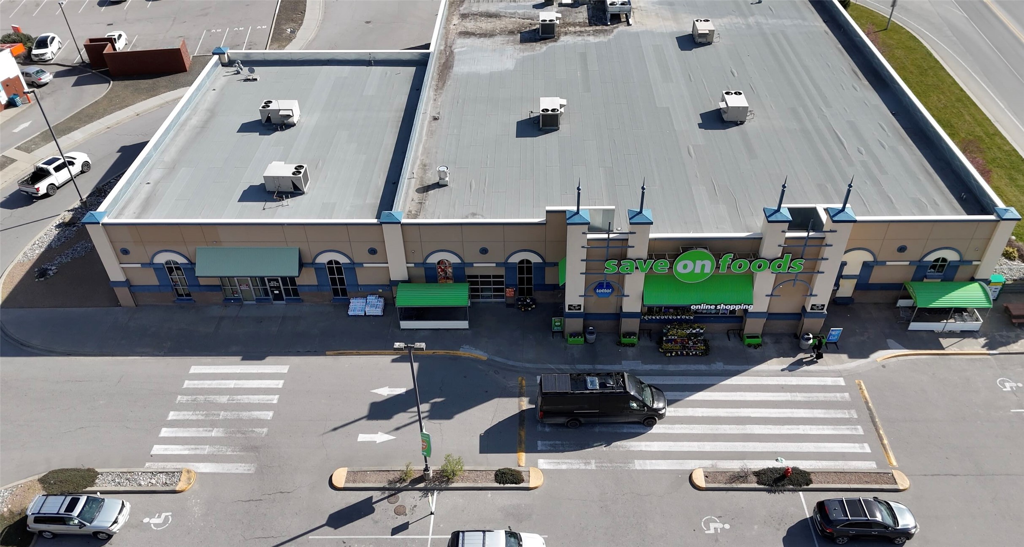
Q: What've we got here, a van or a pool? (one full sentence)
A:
It is a van that can be seen here.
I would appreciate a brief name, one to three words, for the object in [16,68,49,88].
car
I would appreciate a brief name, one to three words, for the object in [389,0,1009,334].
building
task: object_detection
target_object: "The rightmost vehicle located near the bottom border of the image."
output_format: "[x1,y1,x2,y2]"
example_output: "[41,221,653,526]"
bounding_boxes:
[816,493,925,544]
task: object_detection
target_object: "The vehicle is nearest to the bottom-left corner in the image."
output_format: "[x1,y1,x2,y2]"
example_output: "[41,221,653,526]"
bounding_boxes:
[19,492,128,540]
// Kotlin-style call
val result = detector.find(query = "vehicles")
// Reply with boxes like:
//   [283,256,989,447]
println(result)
[33,32,62,56]
[538,373,667,427]
[16,68,49,88]
[108,29,130,51]
[450,530,548,547]
[19,492,128,540]
[816,493,925,544]
[15,153,87,198]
